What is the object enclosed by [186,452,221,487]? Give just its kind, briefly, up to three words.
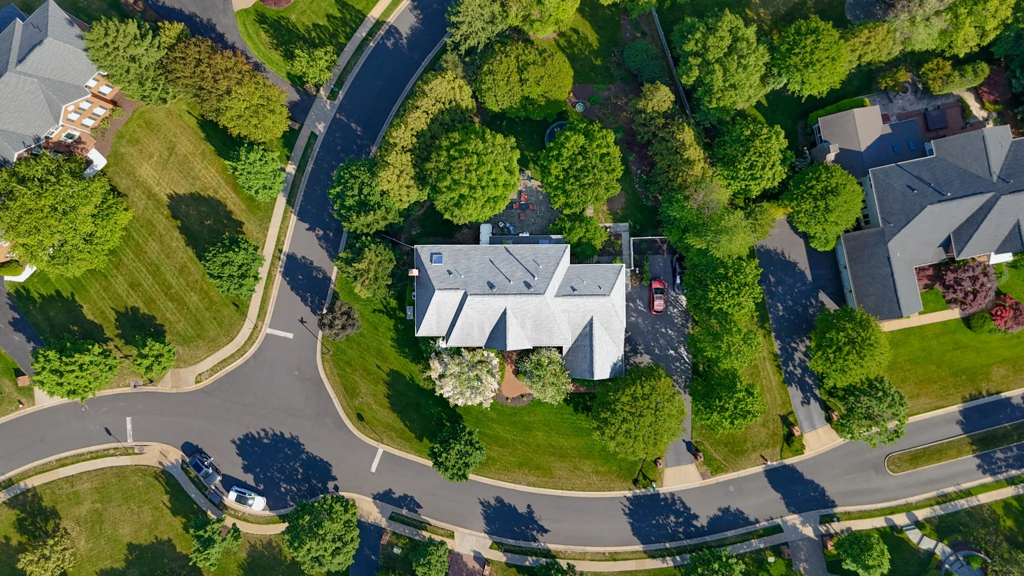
car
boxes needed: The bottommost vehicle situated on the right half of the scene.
[649,279,668,316]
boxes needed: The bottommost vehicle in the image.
[226,487,266,511]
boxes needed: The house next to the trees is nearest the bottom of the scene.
[408,244,626,380]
